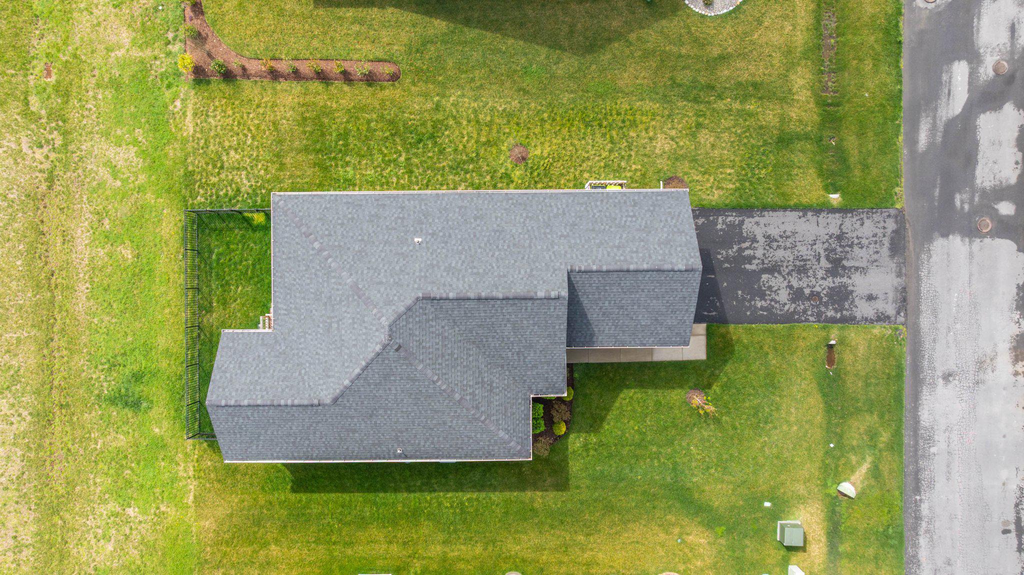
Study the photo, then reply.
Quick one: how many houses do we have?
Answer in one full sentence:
Altogether the scene contains 1 house.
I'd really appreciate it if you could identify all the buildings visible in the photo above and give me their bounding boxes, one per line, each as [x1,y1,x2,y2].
[207,181,700,462]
